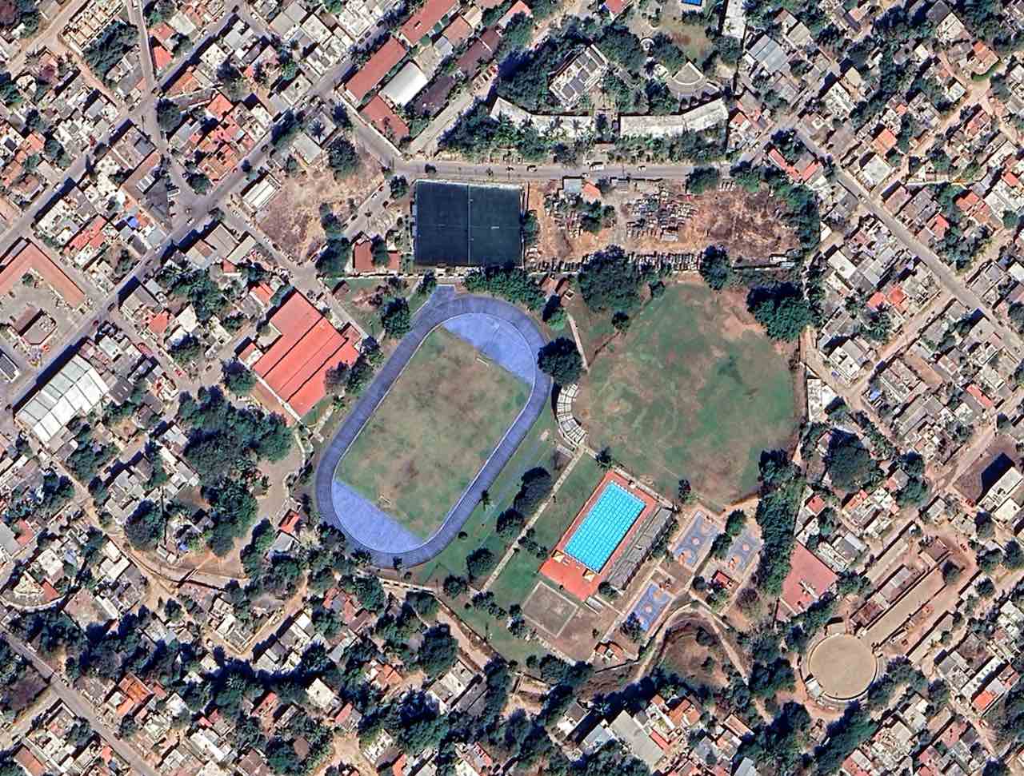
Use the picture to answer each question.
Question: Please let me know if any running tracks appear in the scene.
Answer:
Yes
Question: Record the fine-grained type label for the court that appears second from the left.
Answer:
basketball court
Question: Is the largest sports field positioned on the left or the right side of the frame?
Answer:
right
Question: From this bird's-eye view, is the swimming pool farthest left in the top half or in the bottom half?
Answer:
bottom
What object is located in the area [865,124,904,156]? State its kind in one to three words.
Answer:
house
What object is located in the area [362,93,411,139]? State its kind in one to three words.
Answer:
building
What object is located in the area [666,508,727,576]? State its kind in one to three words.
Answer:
basketball court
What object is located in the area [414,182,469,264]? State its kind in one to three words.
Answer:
sports field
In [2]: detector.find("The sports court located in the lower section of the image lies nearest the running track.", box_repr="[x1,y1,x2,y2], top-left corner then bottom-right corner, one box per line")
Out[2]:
[522,581,580,638]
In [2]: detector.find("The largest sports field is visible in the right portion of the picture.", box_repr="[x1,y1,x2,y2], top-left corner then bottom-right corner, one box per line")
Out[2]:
[576,279,800,506]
